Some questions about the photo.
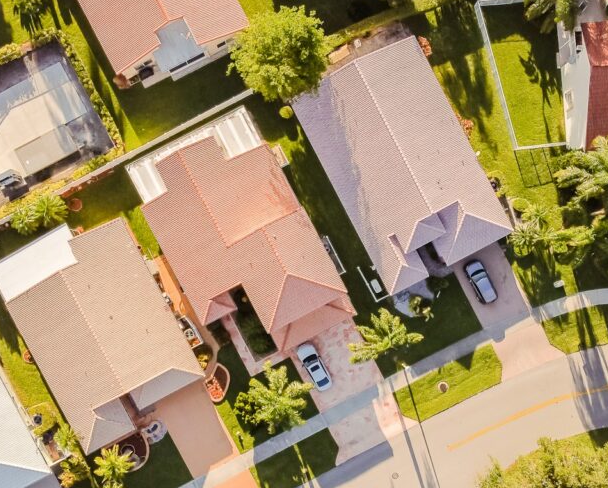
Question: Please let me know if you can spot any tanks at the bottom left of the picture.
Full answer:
No, at the bottom left of the picture there is no tank.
